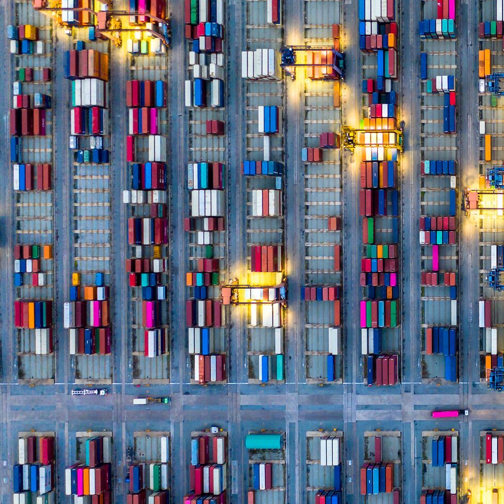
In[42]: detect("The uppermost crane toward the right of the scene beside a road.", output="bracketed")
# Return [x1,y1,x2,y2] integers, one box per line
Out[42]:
[279,44,346,82]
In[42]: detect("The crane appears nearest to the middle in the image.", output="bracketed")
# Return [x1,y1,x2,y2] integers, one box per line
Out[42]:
[223,277,291,309]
